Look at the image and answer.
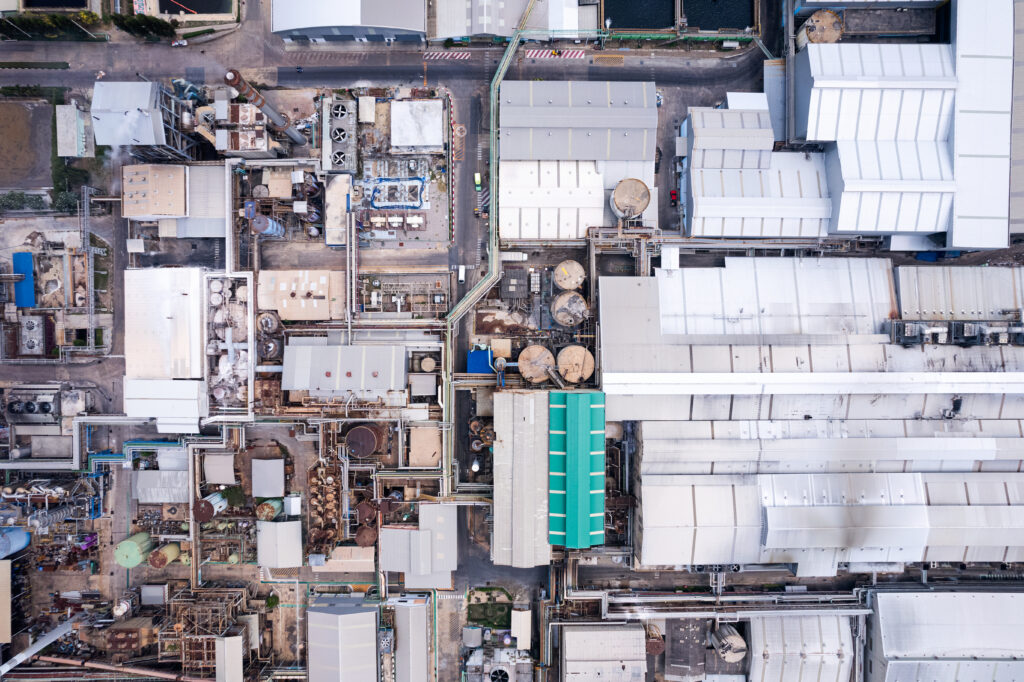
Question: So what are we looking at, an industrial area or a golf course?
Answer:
industrial area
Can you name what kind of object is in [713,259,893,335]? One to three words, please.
building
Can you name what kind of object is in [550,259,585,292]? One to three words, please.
storage tank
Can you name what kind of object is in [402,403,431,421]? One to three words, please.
building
